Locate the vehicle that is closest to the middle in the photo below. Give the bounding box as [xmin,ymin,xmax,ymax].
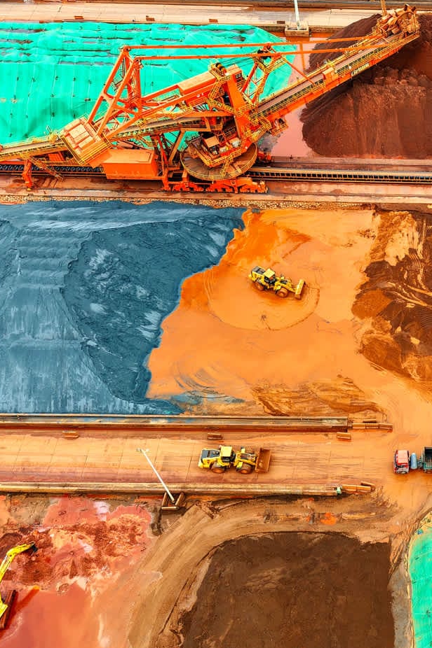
[244,269,304,302]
